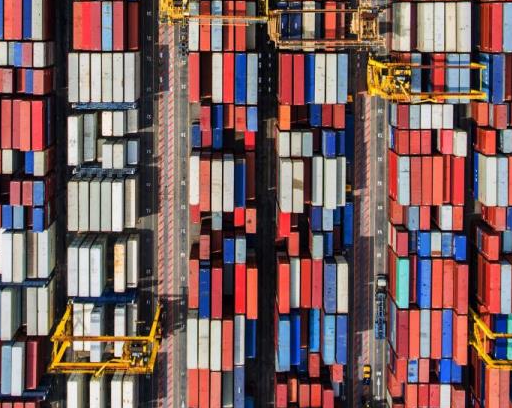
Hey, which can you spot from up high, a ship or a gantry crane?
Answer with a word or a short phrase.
gantry crane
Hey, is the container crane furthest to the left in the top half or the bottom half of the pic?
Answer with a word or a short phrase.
bottom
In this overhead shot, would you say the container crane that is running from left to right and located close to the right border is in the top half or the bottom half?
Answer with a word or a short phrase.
top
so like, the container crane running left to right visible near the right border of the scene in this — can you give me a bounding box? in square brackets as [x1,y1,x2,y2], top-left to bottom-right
[364,50,490,109]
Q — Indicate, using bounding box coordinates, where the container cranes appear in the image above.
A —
[364,50,490,109]
[264,1,383,50]
[465,291,512,368]
[161,0,271,29]
[50,294,169,390]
